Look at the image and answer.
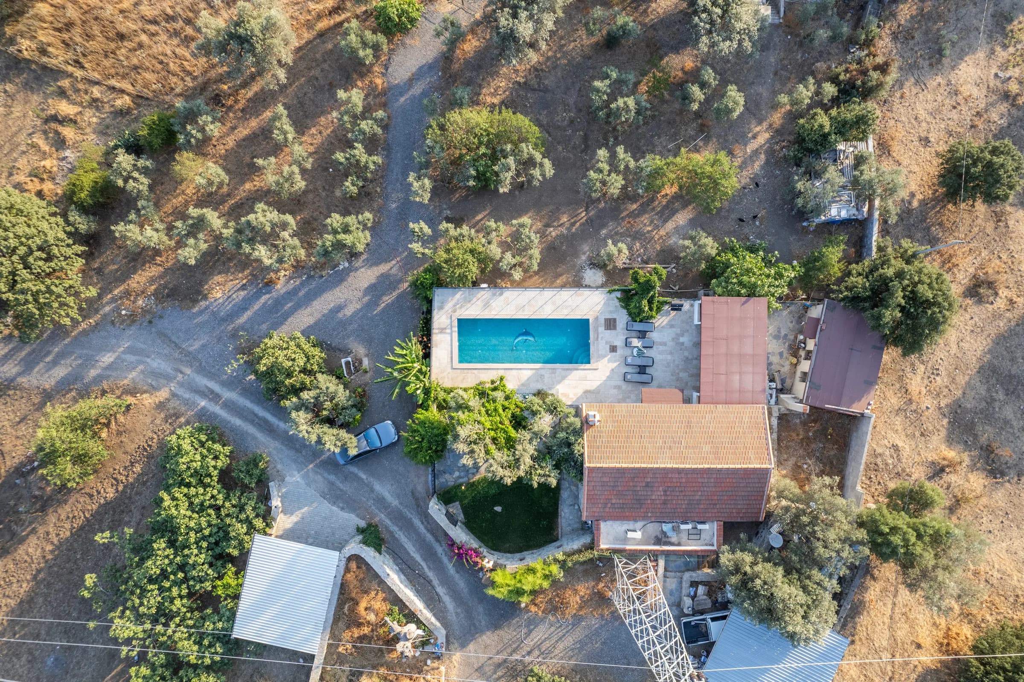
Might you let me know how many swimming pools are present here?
1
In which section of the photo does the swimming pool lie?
center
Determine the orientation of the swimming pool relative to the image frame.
horizontally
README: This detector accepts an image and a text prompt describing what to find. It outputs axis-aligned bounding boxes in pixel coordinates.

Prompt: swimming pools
[453,315,598,368]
